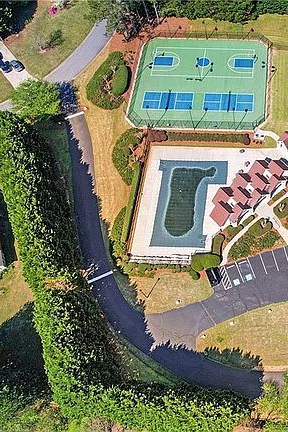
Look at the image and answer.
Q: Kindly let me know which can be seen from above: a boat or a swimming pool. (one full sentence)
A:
There is a swimming pool in the scene.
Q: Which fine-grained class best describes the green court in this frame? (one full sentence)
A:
Specifically, the green court is a basketball court.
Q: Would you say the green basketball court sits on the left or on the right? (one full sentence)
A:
The green basketball court sits on the right side.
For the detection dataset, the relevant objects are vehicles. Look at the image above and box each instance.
[206,266,223,287]
[0,59,10,71]
[9,58,23,71]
